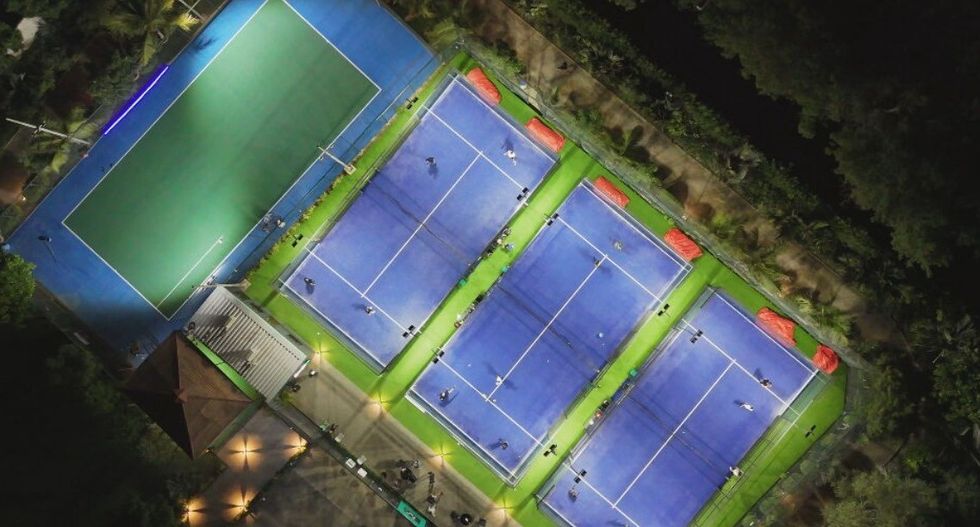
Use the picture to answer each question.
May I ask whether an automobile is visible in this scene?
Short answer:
No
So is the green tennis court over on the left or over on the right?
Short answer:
left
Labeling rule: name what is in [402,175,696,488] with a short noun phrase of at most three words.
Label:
sports court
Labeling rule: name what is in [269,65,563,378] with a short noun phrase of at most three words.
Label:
sports court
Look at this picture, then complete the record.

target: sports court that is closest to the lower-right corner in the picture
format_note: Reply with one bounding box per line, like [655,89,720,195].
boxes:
[534,286,831,527]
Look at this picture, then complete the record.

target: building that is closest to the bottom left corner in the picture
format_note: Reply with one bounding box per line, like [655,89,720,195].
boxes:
[122,330,256,460]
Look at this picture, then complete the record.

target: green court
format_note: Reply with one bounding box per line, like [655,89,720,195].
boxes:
[2,0,440,366]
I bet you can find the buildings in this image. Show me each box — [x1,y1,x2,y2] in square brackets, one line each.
[184,286,317,401]
[122,330,256,460]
